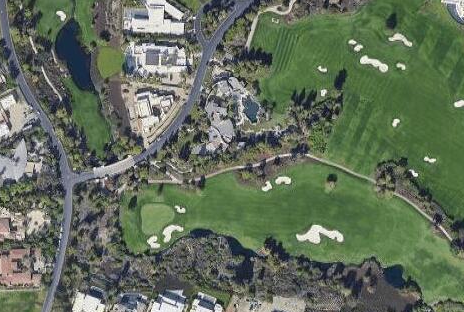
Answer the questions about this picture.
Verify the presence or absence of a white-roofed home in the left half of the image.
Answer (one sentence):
Yes, looking in the left half of the image, one can make out a white-roofed home.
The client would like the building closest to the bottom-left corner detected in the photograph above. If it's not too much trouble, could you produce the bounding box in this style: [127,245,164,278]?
[0,246,42,290]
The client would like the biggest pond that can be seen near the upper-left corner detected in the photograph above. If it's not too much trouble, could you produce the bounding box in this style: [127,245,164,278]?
[55,18,93,92]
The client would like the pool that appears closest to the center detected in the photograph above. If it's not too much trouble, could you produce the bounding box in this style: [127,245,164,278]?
[242,97,260,124]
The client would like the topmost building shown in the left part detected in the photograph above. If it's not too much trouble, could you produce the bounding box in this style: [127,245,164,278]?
[130,0,185,35]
